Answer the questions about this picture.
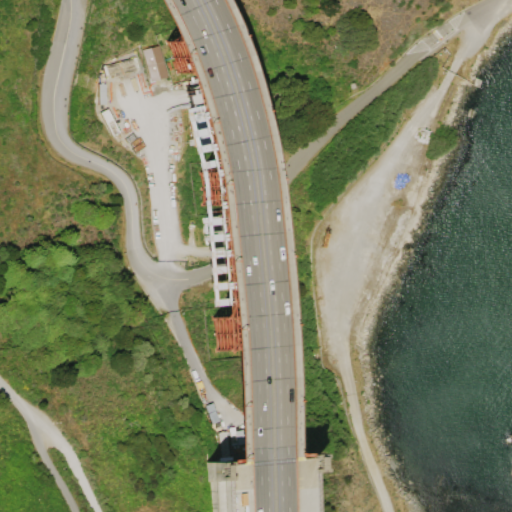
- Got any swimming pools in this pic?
No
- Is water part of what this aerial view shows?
Yes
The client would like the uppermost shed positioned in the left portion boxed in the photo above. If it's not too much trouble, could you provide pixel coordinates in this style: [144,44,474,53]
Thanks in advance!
[146,48,170,84]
